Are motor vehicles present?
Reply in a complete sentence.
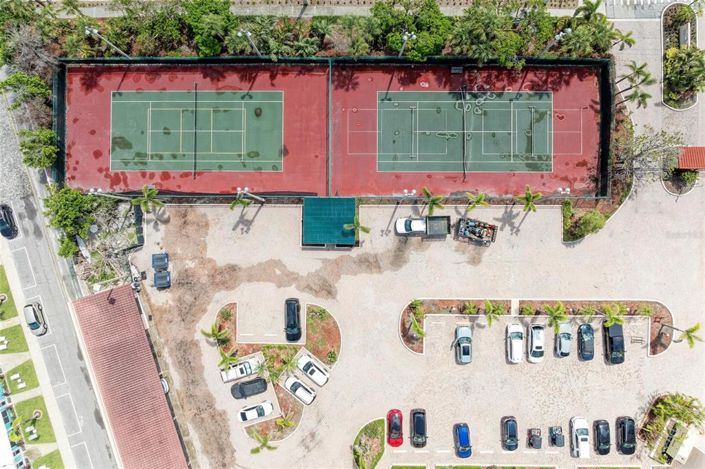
Yes, this view includes a motor vehicle.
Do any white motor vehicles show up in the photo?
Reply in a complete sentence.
Yes, there is a white motor vehicle in the image.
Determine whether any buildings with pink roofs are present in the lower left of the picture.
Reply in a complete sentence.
Yes, a building with a pink roof can be seen in the lower left of the picture.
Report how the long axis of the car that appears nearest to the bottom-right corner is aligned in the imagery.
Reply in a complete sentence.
The car that appears nearest to the bottom-right corner runs from top to bottom in the image.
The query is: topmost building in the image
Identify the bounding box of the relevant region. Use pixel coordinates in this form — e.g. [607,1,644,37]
[302,197,356,246]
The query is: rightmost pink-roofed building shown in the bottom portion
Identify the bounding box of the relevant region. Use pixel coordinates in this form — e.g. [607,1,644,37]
[71,282,193,469]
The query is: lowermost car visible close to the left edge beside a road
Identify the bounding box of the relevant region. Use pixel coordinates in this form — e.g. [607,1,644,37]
[23,300,49,338]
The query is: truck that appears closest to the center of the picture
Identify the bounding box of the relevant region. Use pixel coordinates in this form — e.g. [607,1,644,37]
[394,216,451,238]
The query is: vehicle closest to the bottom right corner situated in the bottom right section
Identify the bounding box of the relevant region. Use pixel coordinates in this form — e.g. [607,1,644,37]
[615,415,637,456]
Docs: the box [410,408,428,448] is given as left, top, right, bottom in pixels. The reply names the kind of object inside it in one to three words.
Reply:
car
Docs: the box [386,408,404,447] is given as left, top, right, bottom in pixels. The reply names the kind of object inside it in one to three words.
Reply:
car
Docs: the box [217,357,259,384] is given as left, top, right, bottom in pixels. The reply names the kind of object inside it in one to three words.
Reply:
truck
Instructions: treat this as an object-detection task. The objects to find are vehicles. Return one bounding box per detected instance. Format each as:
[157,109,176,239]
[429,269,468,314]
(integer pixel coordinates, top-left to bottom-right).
[386,408,404,447]
[569,415,590,459]
[527,322,547,363]
[603,317,625,364]
[592,418,612,455]
[615,415,637,456]
[410,408,428,448]
[0,203,18,241]
[283,298,302,342]
[237,399,276,422]
[501,415,519,450]
[394,216,451,238]
[296,354,330,386]
[283,373,317,406]
[450,324,472,364]
[550,422,565,449]
[554,322,573,360]
[576,322,595,360]
[23,300,49,338]
[529,424,543,451]
[217,357,259,384]
[453,420,472,458]
[230,376,269,399]
[506,322,525,363]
